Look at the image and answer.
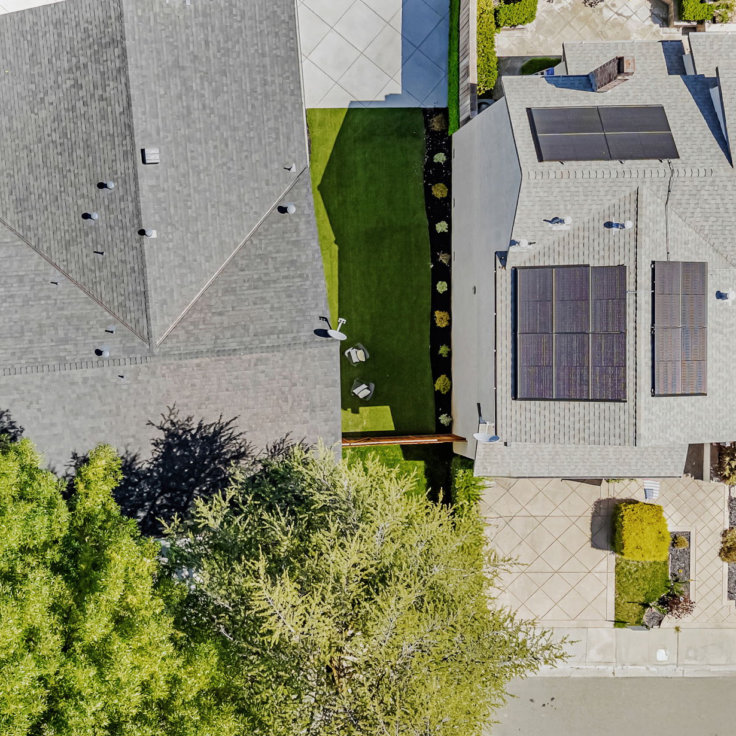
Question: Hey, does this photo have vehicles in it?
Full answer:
No, the frame has no vehicle in it.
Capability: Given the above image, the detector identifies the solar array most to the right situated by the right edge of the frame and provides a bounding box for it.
[649,261,707,395]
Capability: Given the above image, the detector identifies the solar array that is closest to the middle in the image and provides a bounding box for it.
[513,267,627,407]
